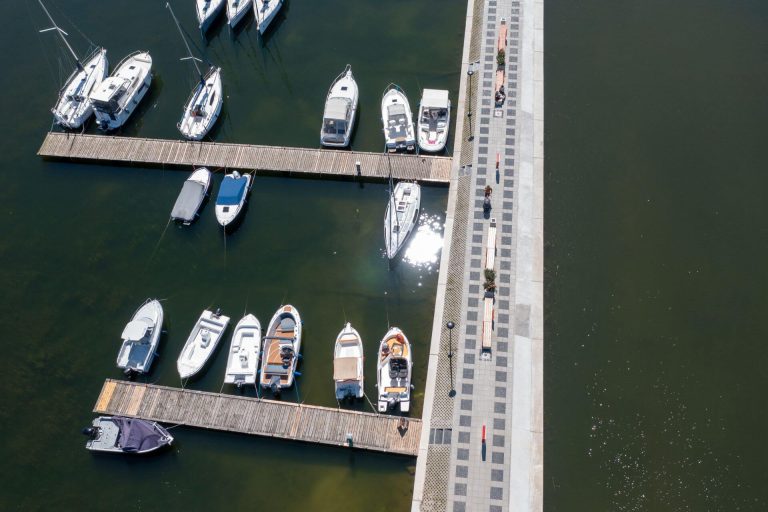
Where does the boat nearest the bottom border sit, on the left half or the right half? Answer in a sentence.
You can find the boat nearest the bottom border on the left side of the picture.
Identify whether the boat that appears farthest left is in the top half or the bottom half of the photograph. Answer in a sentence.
The top half of the photo is where the boat that appears farthest left is.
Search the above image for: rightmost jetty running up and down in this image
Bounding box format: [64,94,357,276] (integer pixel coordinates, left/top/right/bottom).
[411,0,543,512]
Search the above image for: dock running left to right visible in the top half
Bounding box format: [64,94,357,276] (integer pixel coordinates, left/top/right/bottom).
[34,132,452,186]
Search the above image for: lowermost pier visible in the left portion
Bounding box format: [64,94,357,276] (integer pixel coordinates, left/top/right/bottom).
[92,379,422,457]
